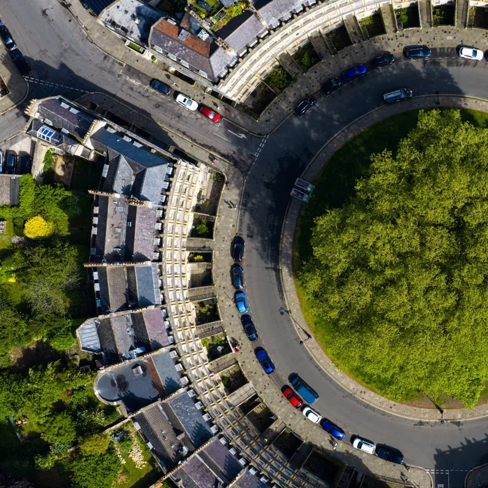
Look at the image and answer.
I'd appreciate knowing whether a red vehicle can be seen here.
Yes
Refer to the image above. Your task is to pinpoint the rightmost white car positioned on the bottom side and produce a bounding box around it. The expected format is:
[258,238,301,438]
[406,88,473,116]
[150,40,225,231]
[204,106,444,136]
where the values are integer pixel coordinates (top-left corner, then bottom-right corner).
[351,437,376,454]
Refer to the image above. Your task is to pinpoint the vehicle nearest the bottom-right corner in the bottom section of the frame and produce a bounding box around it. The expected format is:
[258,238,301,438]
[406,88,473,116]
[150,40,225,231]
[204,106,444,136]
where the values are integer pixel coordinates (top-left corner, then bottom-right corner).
[376,446,403,461]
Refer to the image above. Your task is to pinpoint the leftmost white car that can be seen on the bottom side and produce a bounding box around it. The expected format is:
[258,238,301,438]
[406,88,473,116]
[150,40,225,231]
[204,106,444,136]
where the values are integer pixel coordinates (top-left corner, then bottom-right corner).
[300,405,322,425]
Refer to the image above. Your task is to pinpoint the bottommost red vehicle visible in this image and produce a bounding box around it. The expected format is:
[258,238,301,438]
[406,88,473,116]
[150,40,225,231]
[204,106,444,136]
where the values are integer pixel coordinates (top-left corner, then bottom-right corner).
[282,387,302,408]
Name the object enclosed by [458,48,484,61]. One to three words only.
vehicle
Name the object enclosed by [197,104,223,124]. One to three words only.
car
